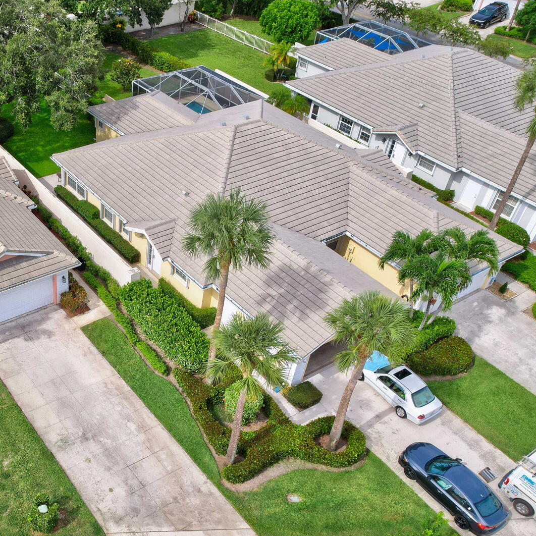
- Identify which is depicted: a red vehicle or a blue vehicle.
blue vehicle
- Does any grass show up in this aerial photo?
Yes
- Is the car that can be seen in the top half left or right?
right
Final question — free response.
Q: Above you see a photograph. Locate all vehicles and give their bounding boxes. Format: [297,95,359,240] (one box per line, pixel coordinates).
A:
[402,446,519,536]
[360,359,446,424]
[472,2,510,26]
[494,447,536,519]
